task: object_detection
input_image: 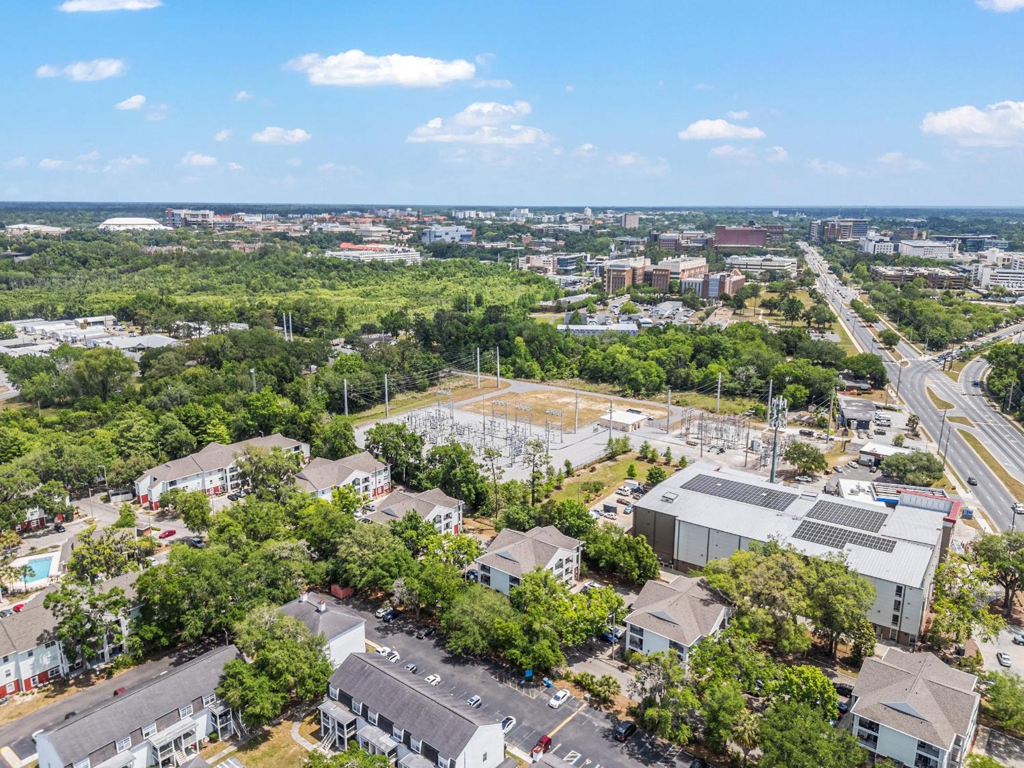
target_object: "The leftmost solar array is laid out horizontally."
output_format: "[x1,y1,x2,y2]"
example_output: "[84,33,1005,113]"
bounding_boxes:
[683,473,797,509]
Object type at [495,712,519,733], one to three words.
car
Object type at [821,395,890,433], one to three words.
building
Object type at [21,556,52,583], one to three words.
swimming pool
